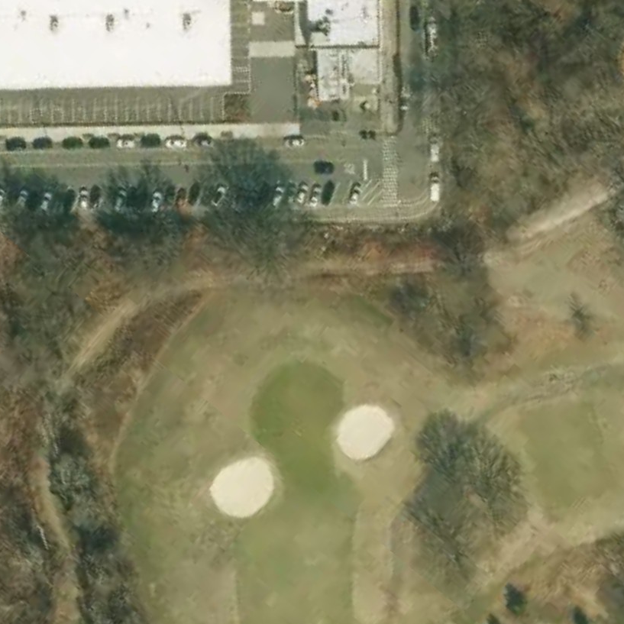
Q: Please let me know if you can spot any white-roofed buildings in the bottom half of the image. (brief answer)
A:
No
